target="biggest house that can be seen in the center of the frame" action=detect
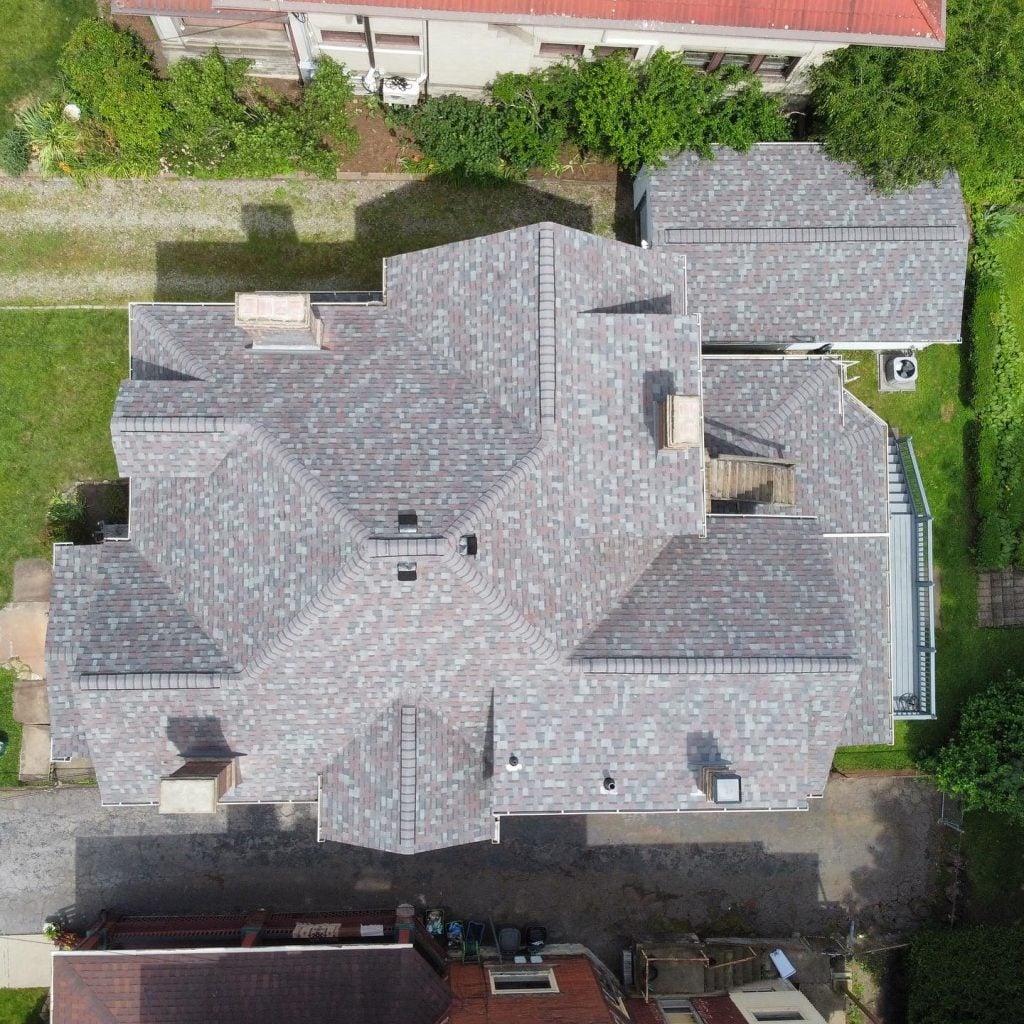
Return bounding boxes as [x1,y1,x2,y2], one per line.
[46,220,934,853]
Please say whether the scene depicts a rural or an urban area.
urban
